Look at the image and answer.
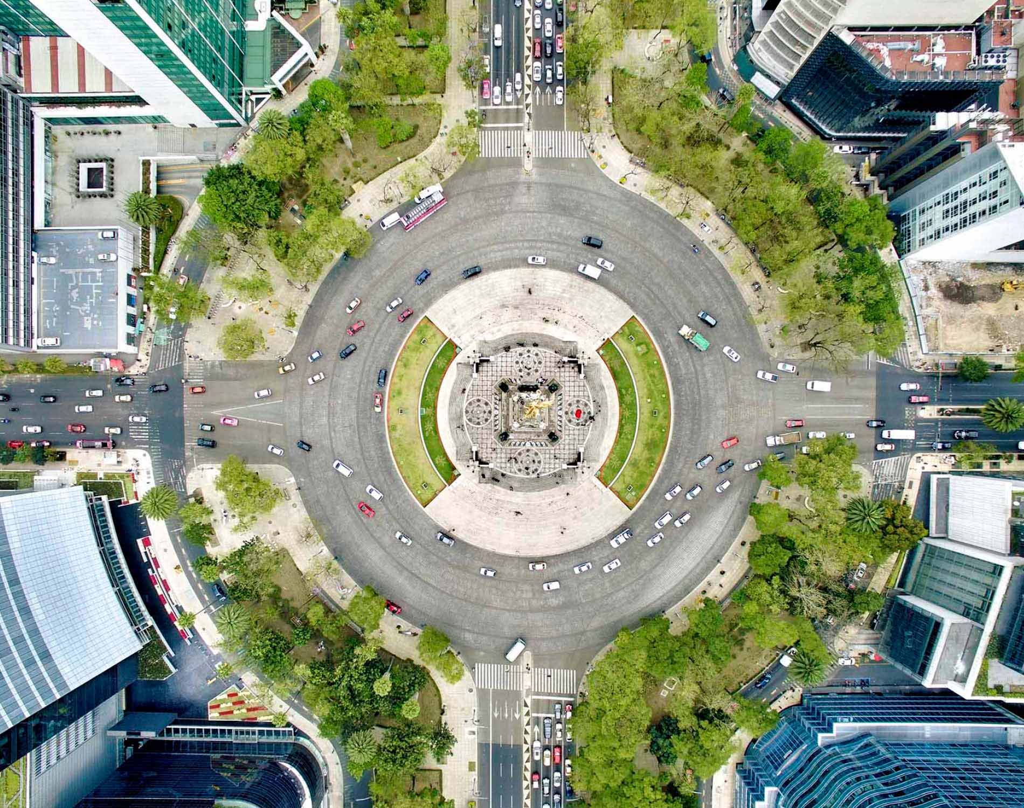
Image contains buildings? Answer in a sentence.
Yes, this view includes a building.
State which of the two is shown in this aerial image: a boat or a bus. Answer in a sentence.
Of the two, only a bus appears.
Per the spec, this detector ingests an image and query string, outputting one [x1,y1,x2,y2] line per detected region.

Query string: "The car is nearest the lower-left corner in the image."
[209,581,224,600]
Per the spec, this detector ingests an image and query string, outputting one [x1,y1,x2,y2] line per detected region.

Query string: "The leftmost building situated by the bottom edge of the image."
[0,486,154,808]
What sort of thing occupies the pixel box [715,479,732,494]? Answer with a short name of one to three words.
car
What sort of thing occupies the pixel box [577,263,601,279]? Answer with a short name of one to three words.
vehicle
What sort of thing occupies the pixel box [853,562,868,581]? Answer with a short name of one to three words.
car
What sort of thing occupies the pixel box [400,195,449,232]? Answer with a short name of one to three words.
bus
